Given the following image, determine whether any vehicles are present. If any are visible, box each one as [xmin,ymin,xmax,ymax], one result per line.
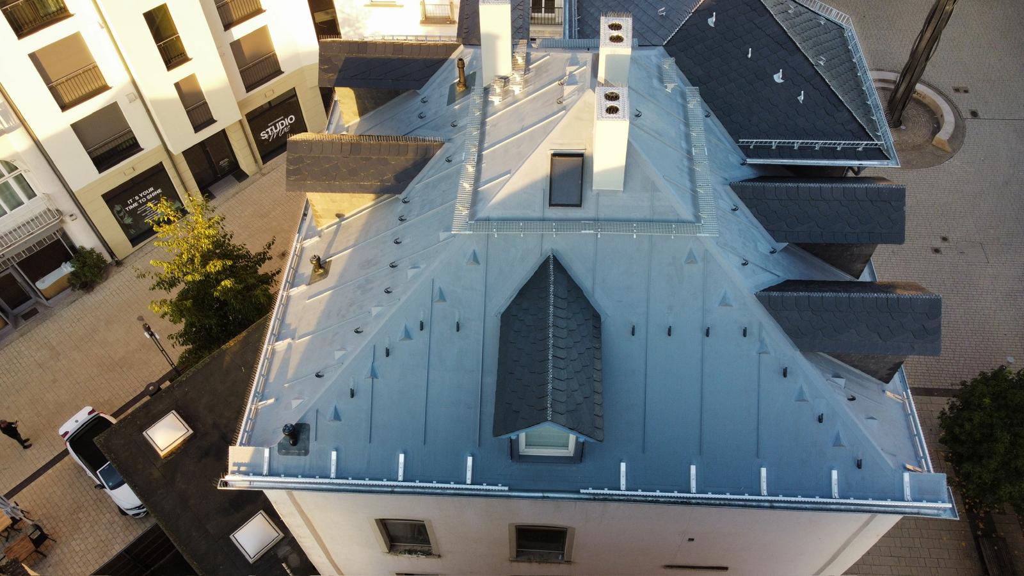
[56,400,151,518]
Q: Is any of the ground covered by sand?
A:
No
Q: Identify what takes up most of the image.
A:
buildings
